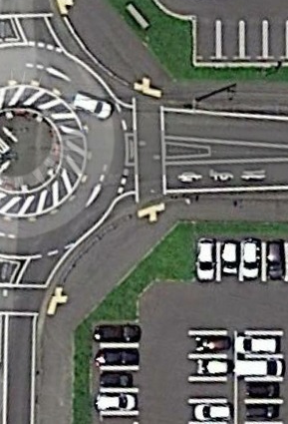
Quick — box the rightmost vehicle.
[268,242,286,280]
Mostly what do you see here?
paved ground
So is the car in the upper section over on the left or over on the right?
left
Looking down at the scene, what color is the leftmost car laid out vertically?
white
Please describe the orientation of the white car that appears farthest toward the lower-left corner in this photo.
from side to side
